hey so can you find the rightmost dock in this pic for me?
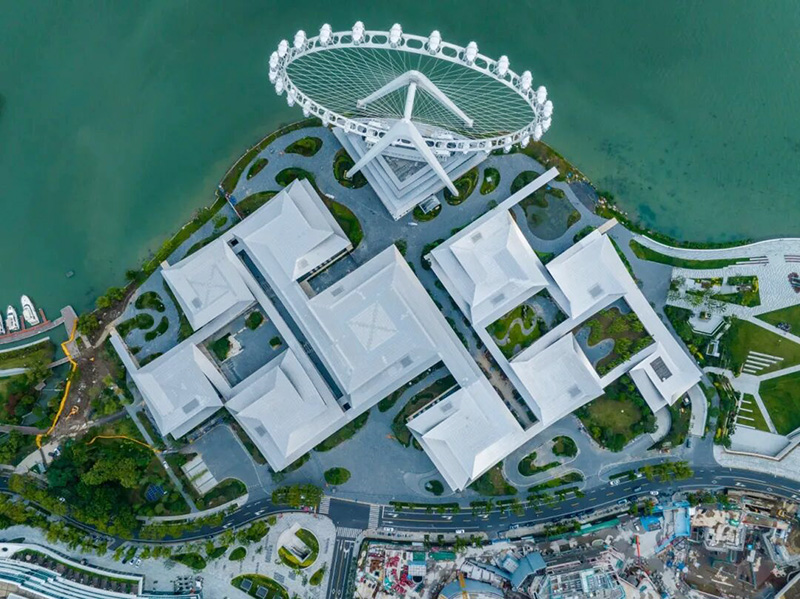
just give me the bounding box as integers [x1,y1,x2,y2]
[60,305,82,362]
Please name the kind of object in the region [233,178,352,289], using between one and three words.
building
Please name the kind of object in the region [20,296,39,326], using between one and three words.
boat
